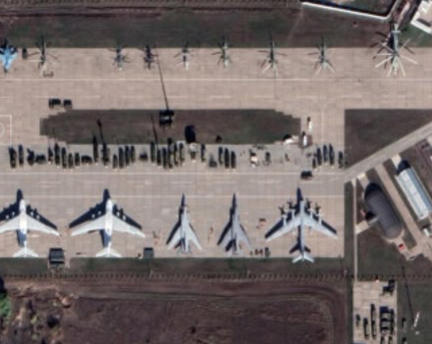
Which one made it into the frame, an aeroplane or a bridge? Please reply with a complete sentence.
Visible in the photo is an aeroplane.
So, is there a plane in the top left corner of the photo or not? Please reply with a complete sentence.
Yes, a plane shows up in the top left corner of the photo.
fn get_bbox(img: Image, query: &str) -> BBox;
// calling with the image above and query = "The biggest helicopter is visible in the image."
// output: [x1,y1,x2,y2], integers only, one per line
[373,27,418,73]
